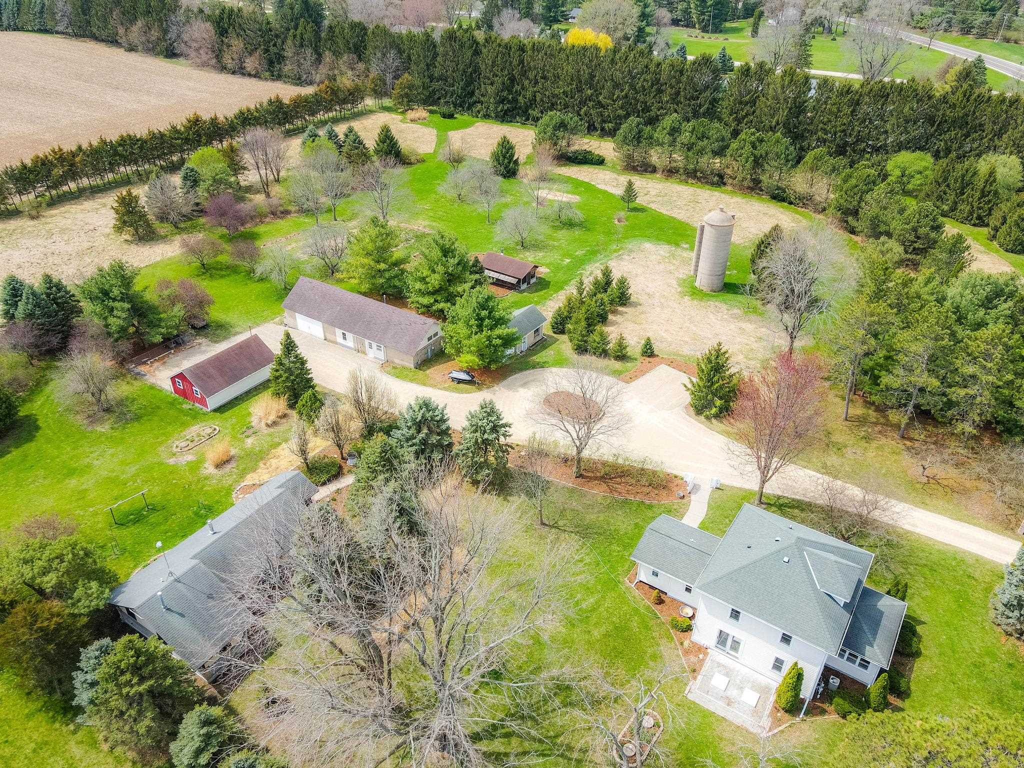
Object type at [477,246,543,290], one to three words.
shed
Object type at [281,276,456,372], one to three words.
building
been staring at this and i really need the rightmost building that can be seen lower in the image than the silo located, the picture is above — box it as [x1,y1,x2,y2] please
[630,502,910,726]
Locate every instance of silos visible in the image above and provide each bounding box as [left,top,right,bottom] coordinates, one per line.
[690,205,741,292]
